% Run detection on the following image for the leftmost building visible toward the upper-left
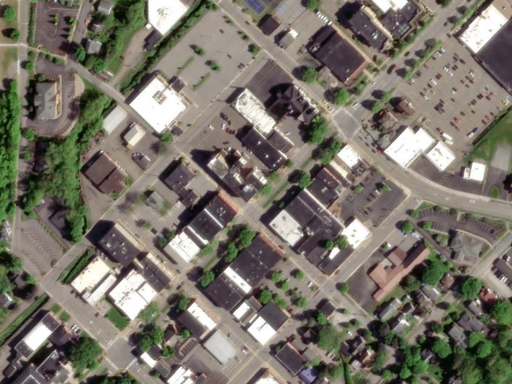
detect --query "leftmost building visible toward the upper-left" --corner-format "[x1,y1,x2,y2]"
[35,82,60,119]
